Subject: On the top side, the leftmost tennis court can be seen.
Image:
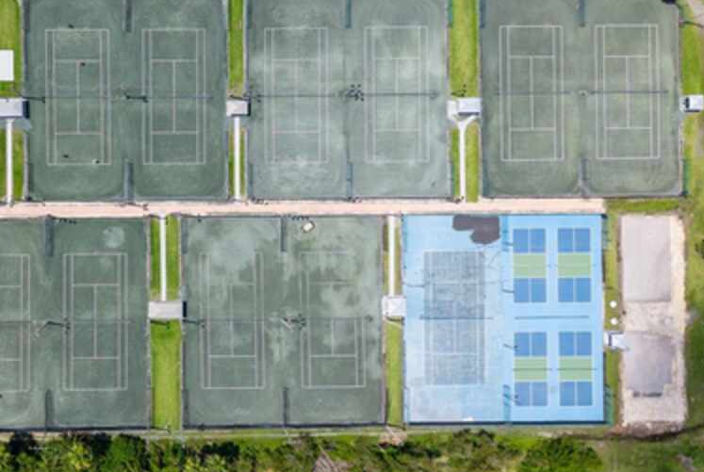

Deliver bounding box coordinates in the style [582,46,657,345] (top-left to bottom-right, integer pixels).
[22,0,128,201]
